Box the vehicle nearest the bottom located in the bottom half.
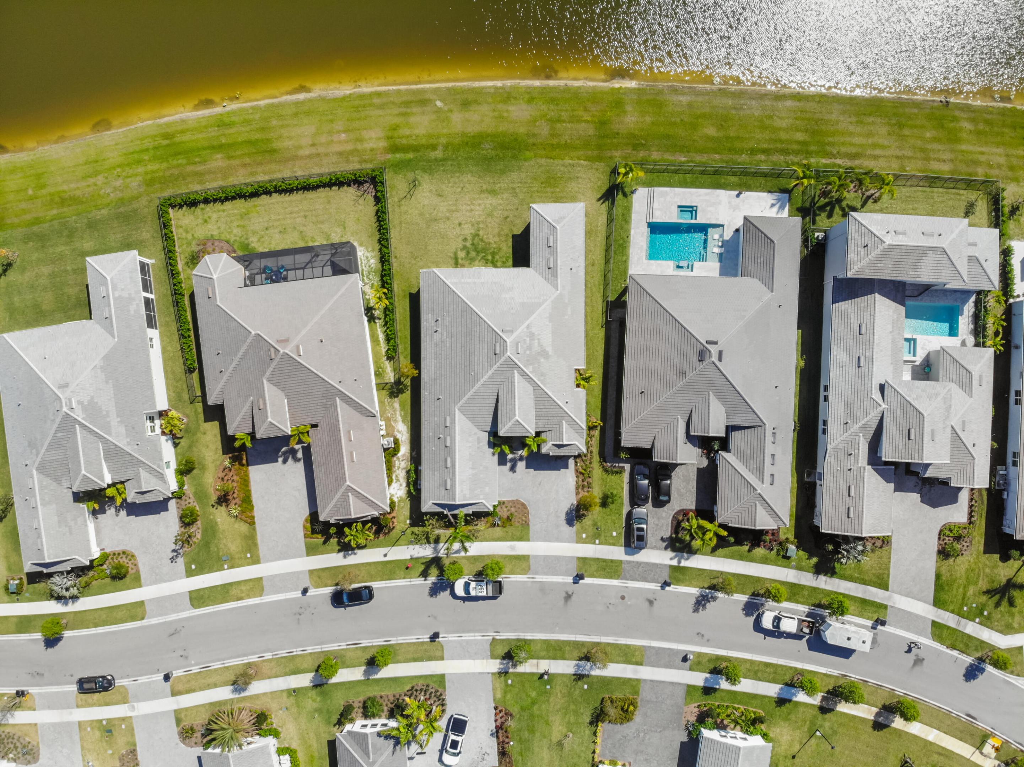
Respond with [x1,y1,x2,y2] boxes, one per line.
[441,711,469,766]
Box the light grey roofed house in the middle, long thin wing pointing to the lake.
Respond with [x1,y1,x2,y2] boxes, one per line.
[421,202,587,514]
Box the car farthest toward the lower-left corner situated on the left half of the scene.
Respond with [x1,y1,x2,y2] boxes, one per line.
[75,672,117,695]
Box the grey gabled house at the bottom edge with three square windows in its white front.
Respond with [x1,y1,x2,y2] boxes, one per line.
[693,728,772,767]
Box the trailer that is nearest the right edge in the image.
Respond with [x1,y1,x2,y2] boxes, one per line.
[813,621,876,654]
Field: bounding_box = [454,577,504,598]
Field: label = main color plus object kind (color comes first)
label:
white truck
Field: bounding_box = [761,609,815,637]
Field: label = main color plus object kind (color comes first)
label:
white truck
